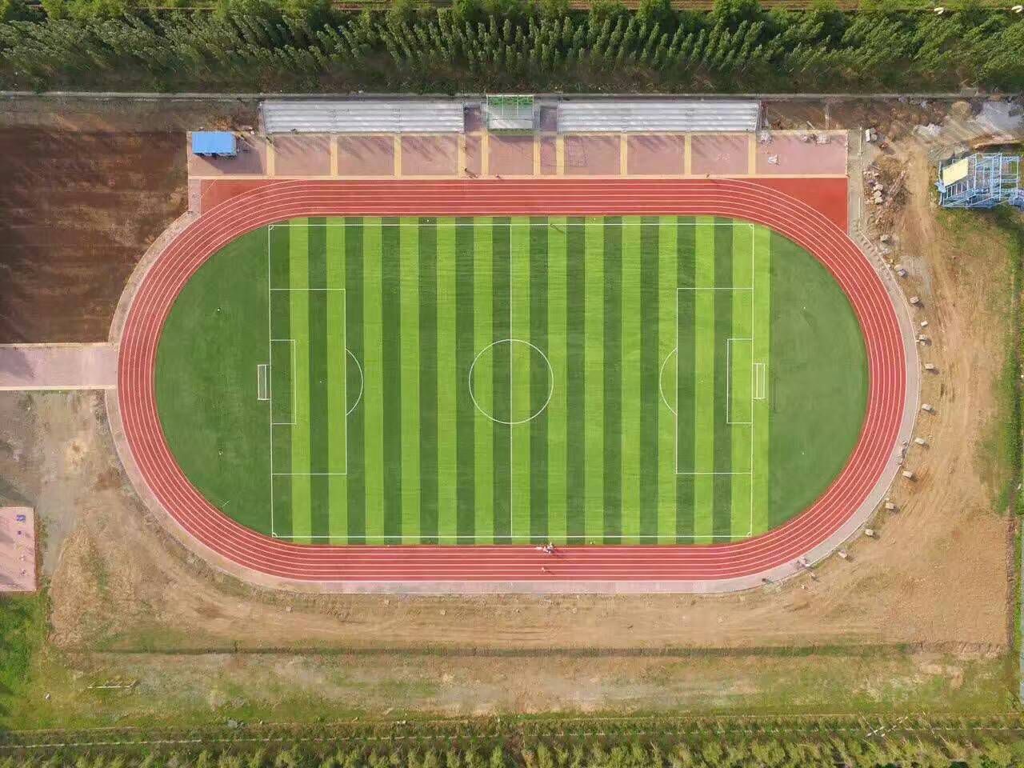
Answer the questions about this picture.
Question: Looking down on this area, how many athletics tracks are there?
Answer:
1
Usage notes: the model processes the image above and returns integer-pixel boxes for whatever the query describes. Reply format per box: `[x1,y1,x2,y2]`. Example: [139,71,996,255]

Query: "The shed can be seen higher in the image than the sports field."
[192,132,240,156]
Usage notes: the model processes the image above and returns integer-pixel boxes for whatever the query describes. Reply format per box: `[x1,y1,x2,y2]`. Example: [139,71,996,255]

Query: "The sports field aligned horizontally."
[154,215,869,545]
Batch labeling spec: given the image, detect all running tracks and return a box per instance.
[117,178,906,581]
